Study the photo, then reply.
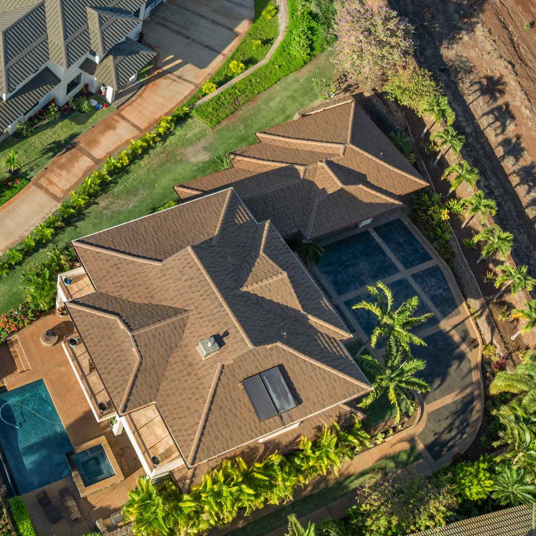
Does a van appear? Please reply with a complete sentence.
No, there's no van here.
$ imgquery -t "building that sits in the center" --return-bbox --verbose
[56,98,431,495]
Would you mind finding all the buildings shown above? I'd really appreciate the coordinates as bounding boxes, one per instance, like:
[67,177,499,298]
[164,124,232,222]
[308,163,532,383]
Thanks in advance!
[56,98,431,495]
[0,0,166,136]
[405,501,536,536]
